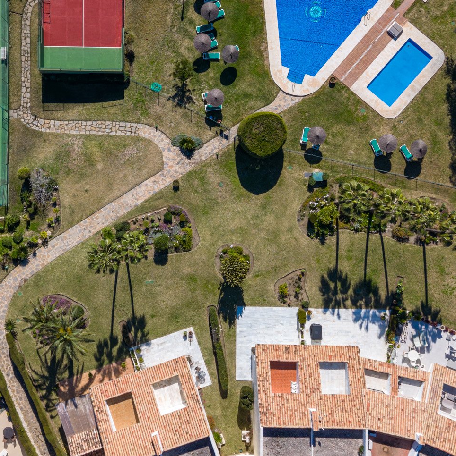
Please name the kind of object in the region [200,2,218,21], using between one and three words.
umbrella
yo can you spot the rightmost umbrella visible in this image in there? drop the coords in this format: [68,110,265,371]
[410,140,429,159]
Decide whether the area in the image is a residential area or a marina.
residential area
